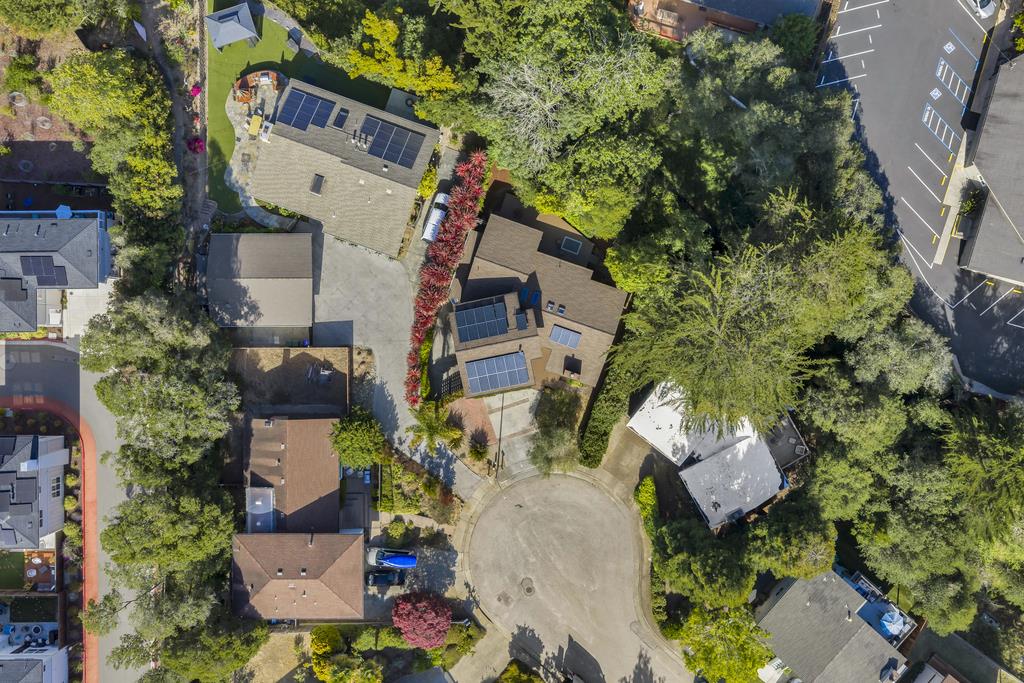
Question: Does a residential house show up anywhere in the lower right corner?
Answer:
Yes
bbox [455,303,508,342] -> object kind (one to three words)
solar array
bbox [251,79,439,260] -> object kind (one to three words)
house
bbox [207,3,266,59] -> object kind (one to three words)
gazebo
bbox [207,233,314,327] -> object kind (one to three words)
building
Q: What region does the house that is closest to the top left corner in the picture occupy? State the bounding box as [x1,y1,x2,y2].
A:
[0,219,116,332]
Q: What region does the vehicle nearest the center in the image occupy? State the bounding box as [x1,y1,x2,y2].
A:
[420,191,449,243]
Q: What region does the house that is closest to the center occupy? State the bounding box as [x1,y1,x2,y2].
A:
[449,214,622,398]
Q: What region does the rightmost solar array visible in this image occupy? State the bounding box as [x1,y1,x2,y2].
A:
[550,325,581,349]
